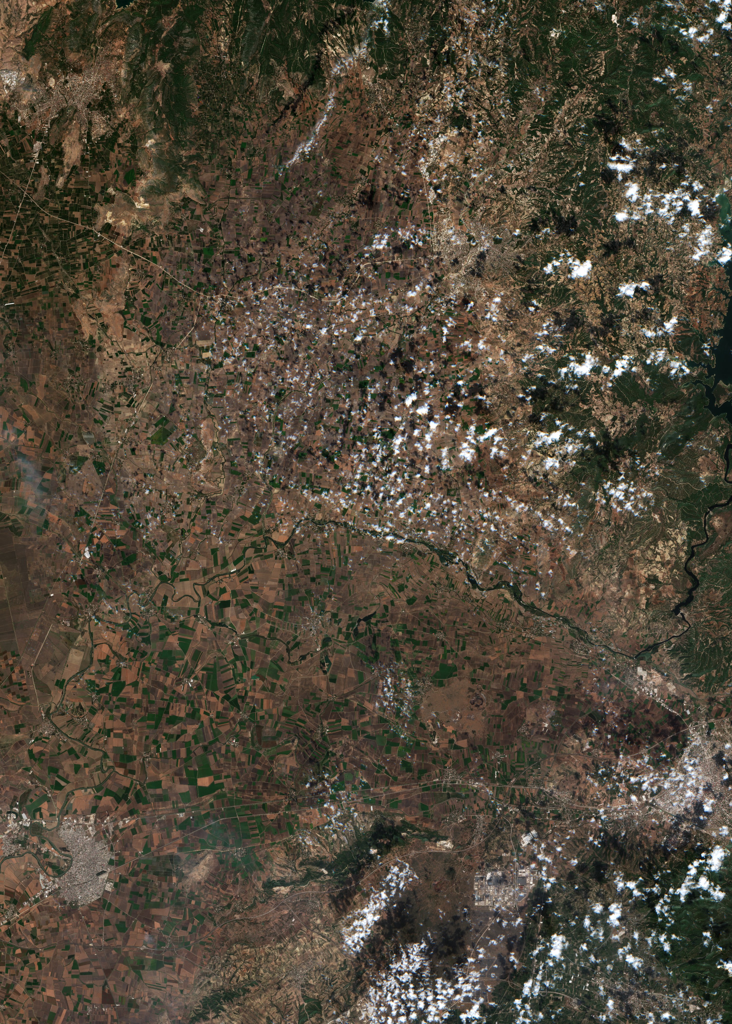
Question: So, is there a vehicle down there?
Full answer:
No, the scene contains no vehicle.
